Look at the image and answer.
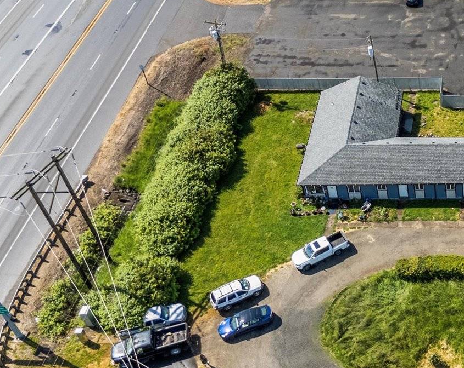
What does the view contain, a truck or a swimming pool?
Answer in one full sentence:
I can see a truck in this picture.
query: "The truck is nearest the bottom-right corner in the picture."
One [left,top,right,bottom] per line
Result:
[286,229,352,273]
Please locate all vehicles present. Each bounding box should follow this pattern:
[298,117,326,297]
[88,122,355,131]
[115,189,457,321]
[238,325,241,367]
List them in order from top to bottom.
[405,0,419,8]
[286,229,352,273]
[207,271,267,314]
[130,298,193,330]
[216,301,279,342]
[108,322,186,368]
